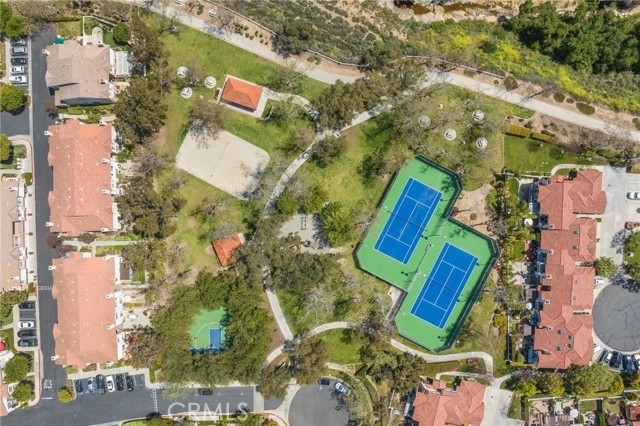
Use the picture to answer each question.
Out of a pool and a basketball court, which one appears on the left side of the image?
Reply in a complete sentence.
The feature located on the left side of the image is a basketball court.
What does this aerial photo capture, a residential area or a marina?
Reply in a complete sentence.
It's a residential area.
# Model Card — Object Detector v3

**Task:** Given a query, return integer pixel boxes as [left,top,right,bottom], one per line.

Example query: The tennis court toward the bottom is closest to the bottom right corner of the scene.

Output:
[396,217,492,349]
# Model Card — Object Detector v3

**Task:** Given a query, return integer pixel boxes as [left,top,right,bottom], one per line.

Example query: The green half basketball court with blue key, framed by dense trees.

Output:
[184,302,235,352]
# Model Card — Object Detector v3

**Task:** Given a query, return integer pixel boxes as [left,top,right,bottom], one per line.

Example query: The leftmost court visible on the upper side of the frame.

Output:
[175,122,270,200]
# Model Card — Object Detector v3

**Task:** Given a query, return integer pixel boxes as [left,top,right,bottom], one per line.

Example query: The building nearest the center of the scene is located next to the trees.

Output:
[212,234,248,267]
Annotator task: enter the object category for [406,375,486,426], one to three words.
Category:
house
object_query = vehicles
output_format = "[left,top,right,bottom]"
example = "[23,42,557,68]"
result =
[11,66,25,74]
[609,350,622,369]
[126,374,135,390]
[11,38,28,46]
[18,321,35,329]
[594,344,604,355]
[19,329,36,337]
[106,374,116,392]
[316,377,331,386]
[599,349,612,363]
[334,382,350,395]
[75,379,84,394]
[19,302,36,309]
[622,353,632,370]
[18,339,38,347]
[96,374,106,394]
[86,377,95,392]
[9,75,28,83]
[10,46,28,54]
[11,57,28,65]
[115,374,125,391]
[627,192,640,199]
